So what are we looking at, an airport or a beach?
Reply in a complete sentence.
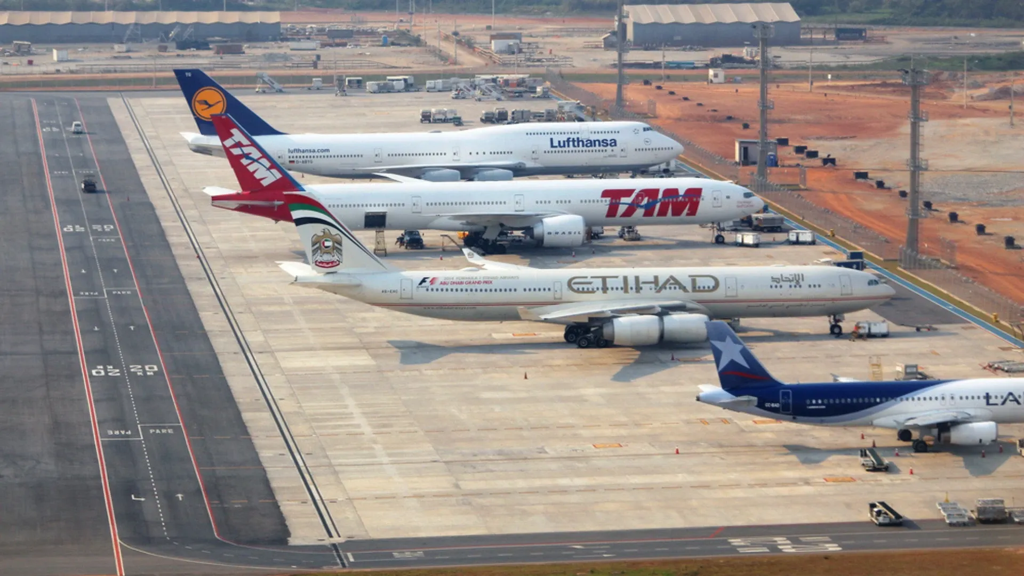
This image shows an airport.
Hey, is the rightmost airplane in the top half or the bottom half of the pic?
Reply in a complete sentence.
The bottom half of the photo is where the rightmost airplane is.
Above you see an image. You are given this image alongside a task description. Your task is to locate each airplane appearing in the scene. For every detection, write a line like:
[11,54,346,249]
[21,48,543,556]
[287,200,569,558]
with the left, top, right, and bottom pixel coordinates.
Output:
[174,69,683,183]
[281,193,895,348]
[695,322,1024,453]
[204,114,764,254]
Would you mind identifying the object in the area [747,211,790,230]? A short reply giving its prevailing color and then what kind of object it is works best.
gray vehicle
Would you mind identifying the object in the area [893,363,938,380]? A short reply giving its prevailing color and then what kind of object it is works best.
gray work vehicle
